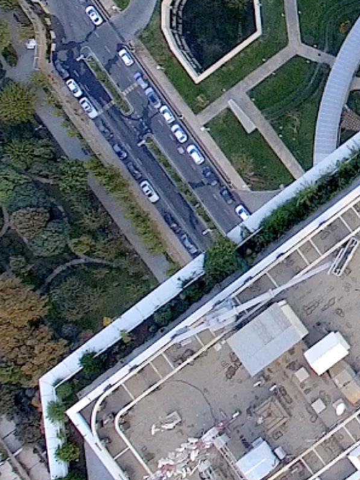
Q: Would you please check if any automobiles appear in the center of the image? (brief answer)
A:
Yes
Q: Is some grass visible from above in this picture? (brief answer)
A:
Yes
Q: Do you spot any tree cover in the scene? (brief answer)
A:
Yes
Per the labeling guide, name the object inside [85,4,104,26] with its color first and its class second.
white car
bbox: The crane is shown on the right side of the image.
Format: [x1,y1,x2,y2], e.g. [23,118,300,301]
[199,235,360,331]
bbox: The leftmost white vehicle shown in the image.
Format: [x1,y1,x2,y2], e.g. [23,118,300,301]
[64,78,82,98]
